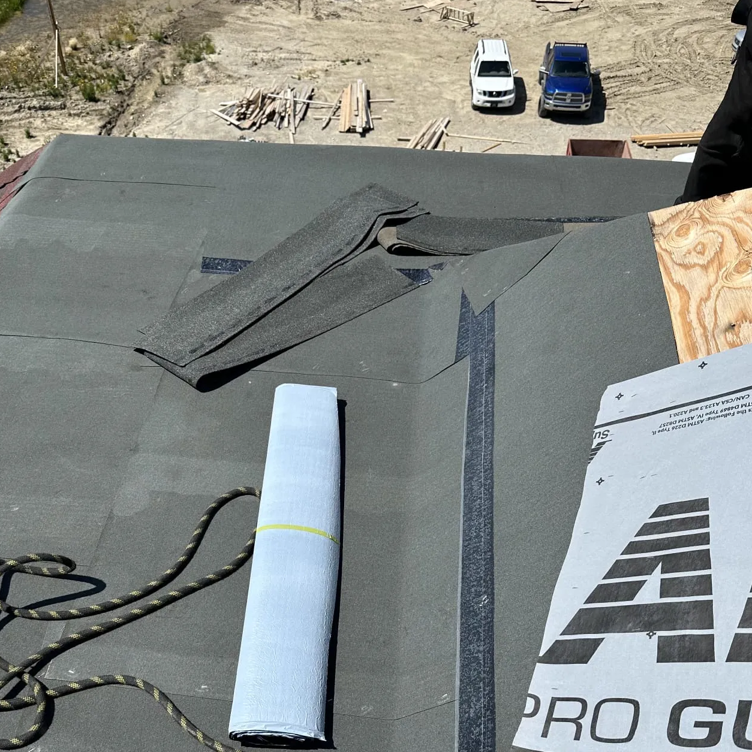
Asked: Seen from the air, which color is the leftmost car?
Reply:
white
